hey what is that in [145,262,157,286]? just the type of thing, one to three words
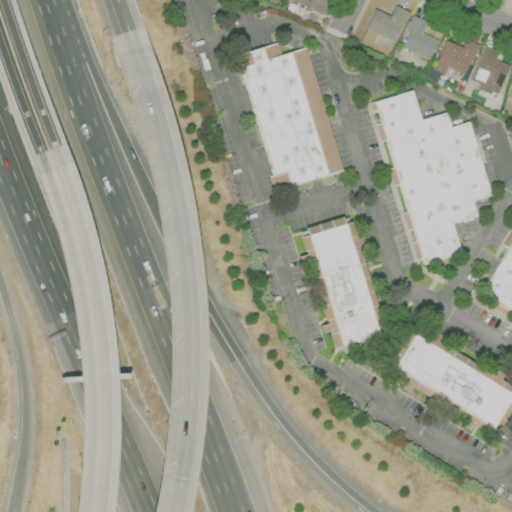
vehicle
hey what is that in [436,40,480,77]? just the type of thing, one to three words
house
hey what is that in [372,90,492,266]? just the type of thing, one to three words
building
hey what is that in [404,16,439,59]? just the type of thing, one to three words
house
